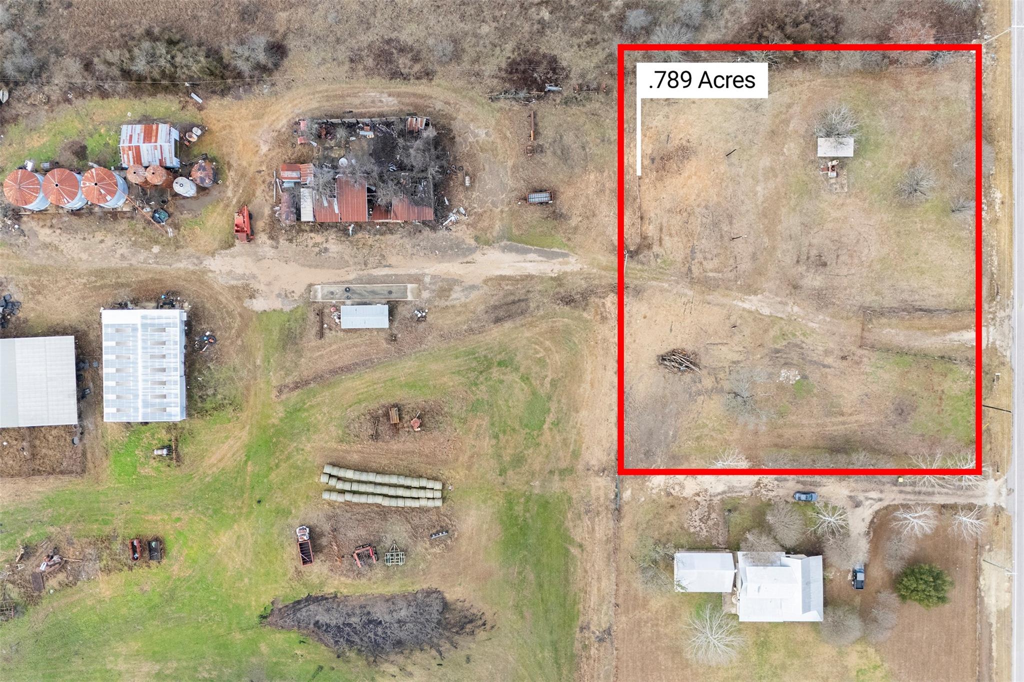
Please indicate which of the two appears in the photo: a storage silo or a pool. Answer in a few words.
storage silo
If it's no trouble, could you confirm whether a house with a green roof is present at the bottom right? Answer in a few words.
No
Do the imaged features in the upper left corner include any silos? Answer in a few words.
Yes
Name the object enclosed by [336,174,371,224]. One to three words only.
barn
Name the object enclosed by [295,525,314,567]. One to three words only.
vehicle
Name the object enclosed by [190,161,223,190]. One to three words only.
silo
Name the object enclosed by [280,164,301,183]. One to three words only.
shed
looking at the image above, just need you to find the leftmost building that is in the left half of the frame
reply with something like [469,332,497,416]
[0,336,88,428]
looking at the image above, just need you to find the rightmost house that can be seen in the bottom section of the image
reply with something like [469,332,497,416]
[735,549,823,626]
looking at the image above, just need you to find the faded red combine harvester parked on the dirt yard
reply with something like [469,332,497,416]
[234,205,254,245]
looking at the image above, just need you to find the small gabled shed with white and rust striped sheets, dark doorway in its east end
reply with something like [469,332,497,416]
[119,124,181,170]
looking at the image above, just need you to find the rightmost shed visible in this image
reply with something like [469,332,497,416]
[812,138,853,159]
